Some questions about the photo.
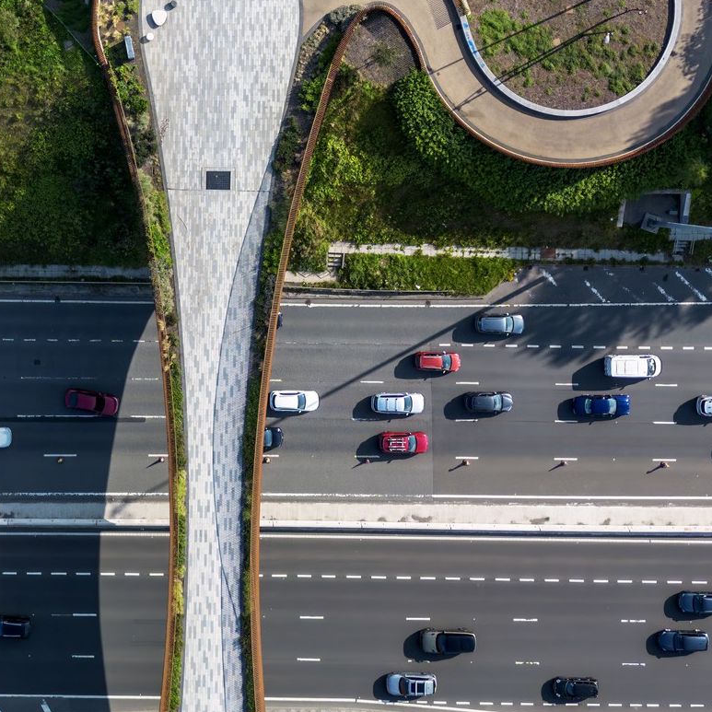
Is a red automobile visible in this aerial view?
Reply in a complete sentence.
Yes, the frame does contain a red automobile.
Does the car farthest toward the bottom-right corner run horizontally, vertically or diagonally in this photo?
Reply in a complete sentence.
The car farthest toward the bottom-right corner is laid out horizontally.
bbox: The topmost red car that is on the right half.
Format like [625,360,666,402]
[414,350,460,376]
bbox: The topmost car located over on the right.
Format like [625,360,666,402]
[474,312,523,336]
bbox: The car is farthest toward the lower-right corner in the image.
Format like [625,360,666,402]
[655,628,709,654]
